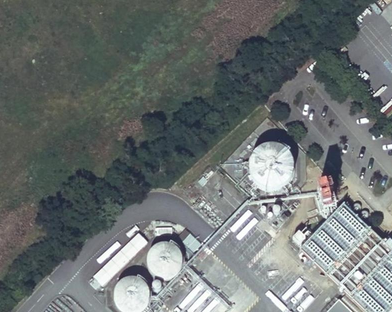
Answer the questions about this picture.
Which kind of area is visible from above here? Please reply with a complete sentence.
The picture captures an industrial area.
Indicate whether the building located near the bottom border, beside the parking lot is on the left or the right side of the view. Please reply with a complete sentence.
The building located near the bottom border, beside the parking lot is on the right side of the image.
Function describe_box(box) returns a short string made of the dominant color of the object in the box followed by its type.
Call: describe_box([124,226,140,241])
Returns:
white vehicle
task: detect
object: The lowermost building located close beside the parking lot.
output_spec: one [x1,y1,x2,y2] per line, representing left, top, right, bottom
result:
[301,202,392,312]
